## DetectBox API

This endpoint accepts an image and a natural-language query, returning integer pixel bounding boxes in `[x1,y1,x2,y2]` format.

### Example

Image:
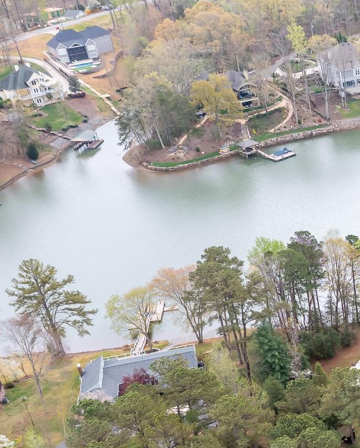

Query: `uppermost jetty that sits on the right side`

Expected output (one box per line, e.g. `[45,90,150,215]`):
[238,138,296,162]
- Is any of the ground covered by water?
Yes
